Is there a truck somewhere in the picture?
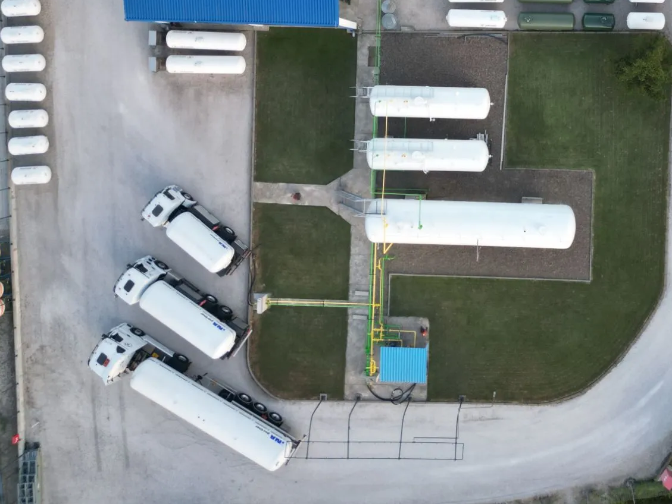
Yes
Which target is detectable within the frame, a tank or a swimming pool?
tank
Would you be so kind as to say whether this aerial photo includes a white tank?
Yes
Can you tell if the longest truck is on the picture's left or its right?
left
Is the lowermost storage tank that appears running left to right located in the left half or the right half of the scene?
right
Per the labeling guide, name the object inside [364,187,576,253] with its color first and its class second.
white storage tank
